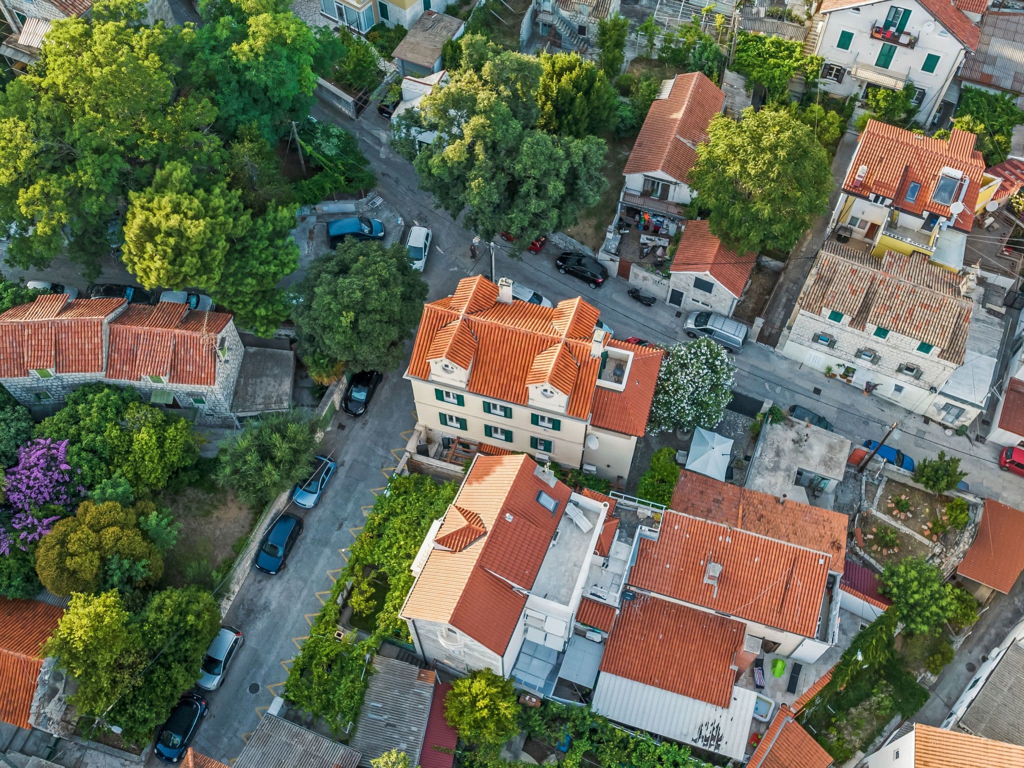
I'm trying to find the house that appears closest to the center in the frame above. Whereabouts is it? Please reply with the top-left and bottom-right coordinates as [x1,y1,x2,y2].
[407,273,666,483]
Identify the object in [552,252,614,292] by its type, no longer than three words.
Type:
car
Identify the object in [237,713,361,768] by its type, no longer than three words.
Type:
shed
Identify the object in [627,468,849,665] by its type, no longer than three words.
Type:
house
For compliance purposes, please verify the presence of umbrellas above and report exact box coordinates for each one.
[655,238,666,254]
[685,427,746,480]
